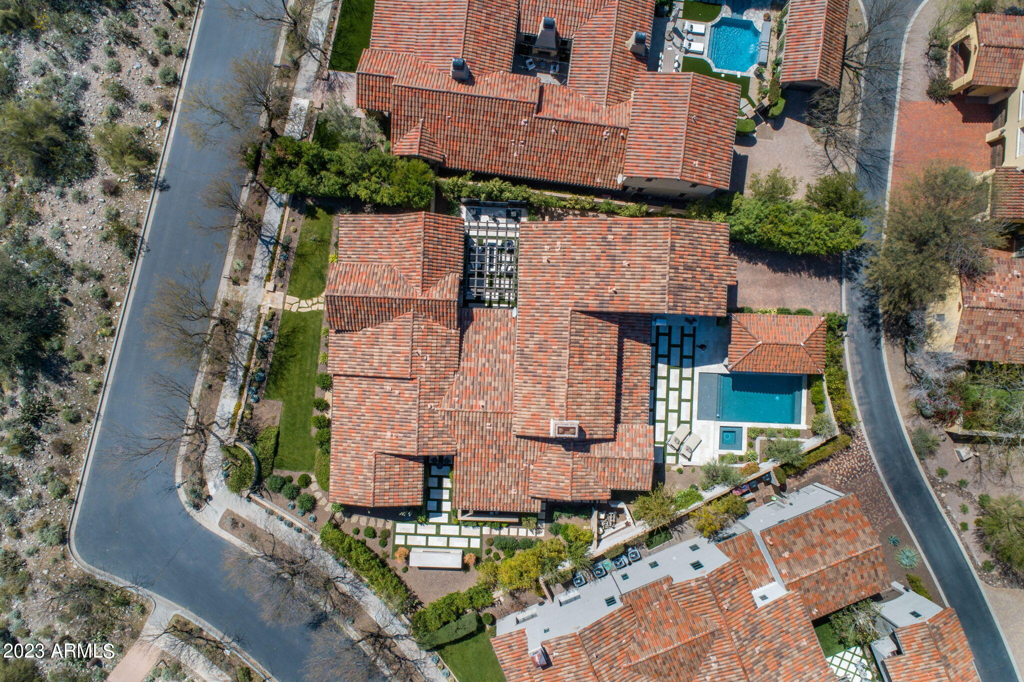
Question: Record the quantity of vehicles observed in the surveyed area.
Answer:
none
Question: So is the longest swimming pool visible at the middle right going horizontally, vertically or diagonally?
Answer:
horizontally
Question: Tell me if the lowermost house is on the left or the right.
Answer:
right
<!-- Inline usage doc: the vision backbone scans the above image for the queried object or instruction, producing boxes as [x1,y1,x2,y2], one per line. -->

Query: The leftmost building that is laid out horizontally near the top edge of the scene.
[355,0,741,202]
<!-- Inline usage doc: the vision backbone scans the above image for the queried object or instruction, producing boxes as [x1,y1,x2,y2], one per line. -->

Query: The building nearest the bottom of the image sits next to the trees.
[491,482,982,682]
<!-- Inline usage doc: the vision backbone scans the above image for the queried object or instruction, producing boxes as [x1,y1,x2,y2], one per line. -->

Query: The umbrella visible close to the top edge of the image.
[664,10,676,40]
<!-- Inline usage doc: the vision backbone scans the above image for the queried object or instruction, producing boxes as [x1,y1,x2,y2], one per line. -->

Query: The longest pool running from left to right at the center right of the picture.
[697,373,803,424]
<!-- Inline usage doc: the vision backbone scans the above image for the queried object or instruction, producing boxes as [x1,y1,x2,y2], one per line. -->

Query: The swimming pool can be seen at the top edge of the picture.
[705,4,769,75]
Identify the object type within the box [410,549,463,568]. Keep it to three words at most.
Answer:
fountain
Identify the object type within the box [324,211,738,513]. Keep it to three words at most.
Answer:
house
